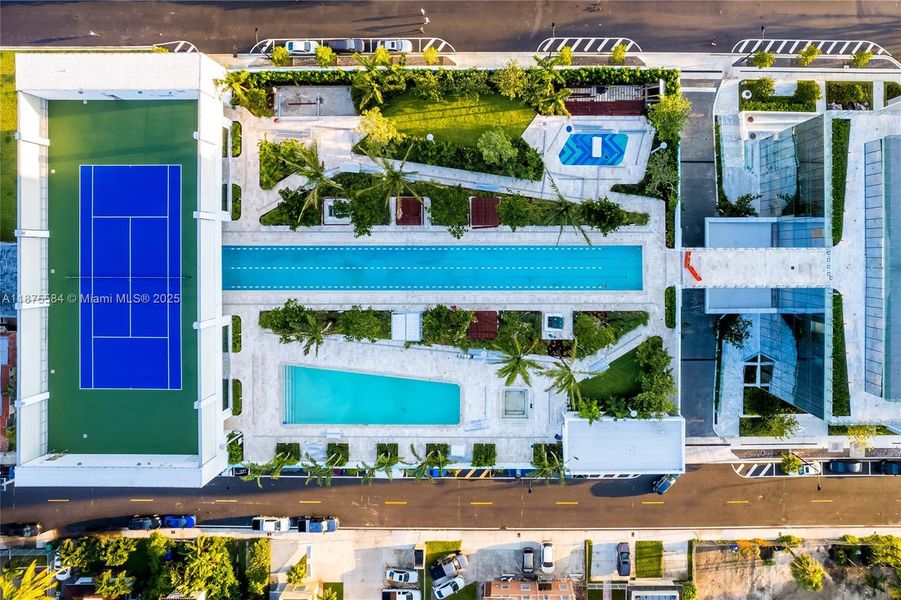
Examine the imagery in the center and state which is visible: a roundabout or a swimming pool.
swimming pool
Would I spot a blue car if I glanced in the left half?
Yes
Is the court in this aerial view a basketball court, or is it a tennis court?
tennis court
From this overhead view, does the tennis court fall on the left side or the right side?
left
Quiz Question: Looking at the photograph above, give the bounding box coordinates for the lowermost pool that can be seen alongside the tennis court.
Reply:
[282,363,463,428]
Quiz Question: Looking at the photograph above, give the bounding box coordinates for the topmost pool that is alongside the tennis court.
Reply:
[220,245,643,291]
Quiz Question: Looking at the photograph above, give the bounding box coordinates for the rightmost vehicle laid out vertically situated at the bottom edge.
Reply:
[616,540,632,576]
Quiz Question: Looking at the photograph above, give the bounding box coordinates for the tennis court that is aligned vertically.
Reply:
[48,99,198,454]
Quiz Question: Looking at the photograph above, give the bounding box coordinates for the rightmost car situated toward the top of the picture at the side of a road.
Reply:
[379,38,414,55]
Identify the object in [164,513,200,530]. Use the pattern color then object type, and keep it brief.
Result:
blue car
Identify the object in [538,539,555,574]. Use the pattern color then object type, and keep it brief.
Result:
white car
